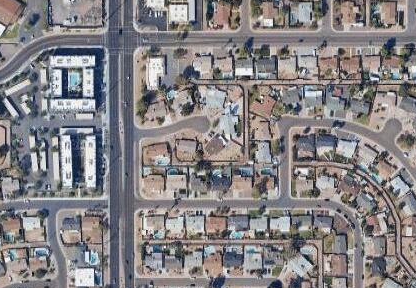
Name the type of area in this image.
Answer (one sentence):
What you see here is a residential area.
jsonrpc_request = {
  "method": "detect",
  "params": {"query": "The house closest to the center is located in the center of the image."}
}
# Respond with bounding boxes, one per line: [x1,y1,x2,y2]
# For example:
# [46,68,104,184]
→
[201,135,226,160]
